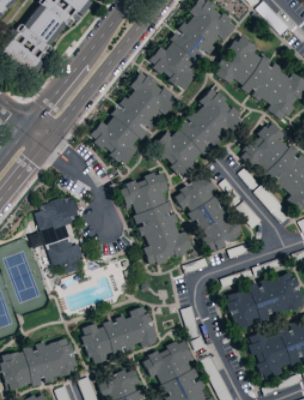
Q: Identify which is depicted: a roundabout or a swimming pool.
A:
swimming pool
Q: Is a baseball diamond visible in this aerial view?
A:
No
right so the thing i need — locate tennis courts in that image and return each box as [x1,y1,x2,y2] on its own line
[0,240,48,314]
[0,273,20,340]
